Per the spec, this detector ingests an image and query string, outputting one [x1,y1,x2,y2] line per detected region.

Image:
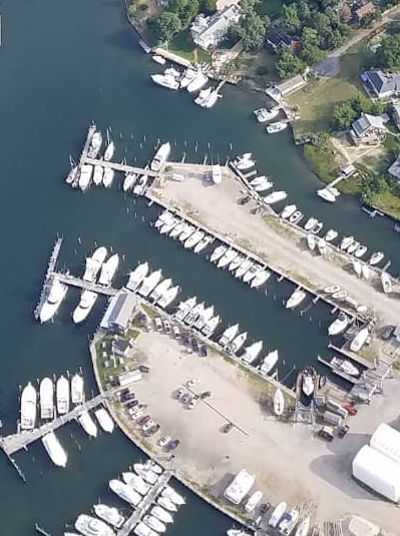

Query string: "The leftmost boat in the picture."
[16,378,36,432]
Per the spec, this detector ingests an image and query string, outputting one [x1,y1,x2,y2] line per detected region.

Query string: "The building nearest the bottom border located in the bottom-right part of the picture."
[351,444,400,502]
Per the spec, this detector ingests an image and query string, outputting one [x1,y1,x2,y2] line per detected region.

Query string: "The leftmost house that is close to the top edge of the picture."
[182,4,243,57]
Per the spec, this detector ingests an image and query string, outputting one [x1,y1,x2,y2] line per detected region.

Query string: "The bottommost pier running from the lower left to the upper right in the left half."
[113,468,175,536]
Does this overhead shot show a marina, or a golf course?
marina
